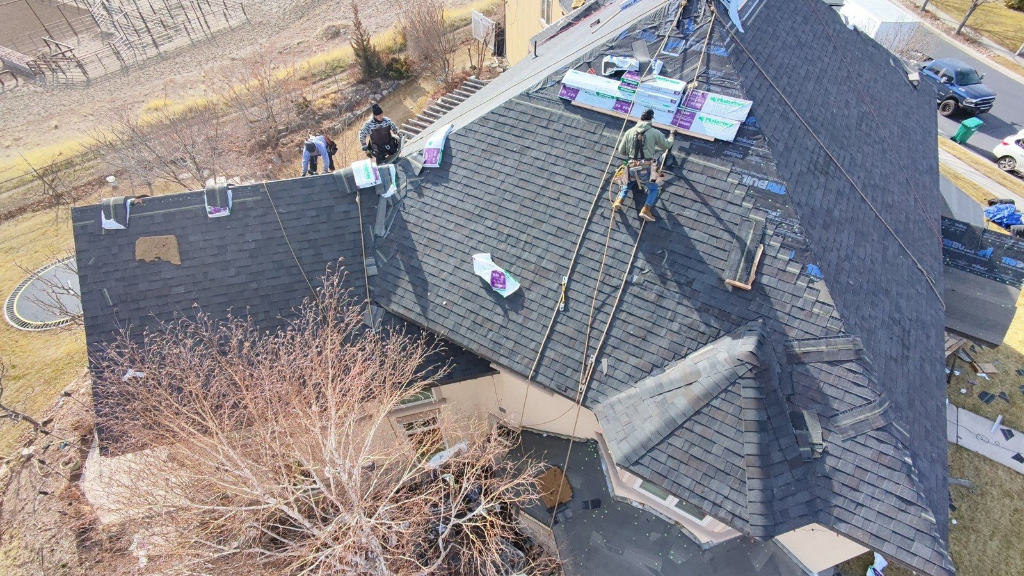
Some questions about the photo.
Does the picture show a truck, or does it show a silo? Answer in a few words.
truck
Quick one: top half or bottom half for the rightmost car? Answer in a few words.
top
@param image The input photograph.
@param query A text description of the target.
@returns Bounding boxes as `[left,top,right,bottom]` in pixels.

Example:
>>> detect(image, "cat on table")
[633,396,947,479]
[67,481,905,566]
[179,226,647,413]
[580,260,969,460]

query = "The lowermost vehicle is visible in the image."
[999,135,1024,166]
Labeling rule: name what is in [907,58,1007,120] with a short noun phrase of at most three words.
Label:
truck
